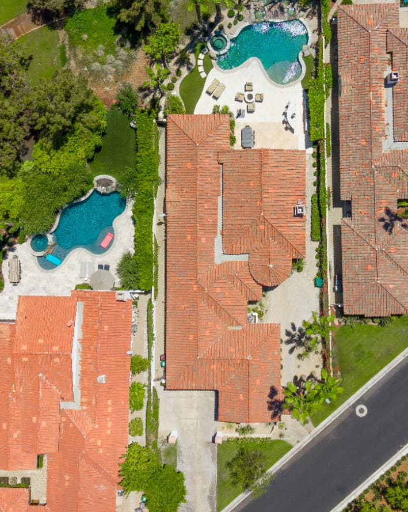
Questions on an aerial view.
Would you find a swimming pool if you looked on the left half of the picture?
Yes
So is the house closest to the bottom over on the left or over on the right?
left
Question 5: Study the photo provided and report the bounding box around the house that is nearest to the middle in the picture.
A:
[164,113,307,426]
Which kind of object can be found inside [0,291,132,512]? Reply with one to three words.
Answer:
house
